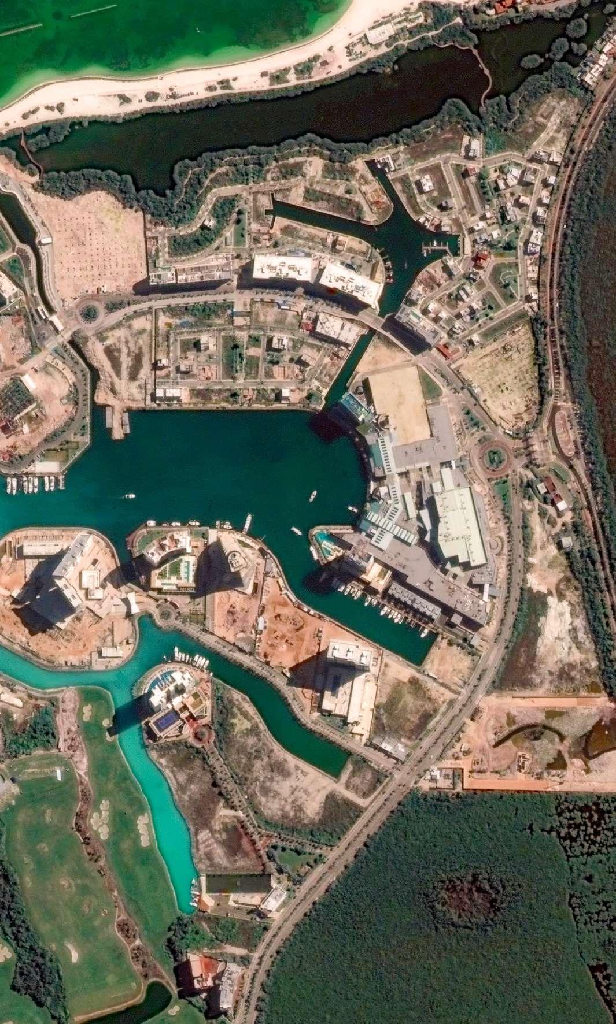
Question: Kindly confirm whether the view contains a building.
Yes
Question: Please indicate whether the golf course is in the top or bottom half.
bottom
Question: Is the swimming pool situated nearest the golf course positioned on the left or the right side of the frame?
left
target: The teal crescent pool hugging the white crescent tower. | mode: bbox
[143,667,188,695]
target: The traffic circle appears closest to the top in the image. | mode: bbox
[74,298,105,329]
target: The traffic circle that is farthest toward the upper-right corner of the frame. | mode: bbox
[472,436,516,480]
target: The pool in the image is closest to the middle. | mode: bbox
[311,526,350,564]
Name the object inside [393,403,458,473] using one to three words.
building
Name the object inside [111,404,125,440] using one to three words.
pier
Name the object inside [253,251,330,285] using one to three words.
building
